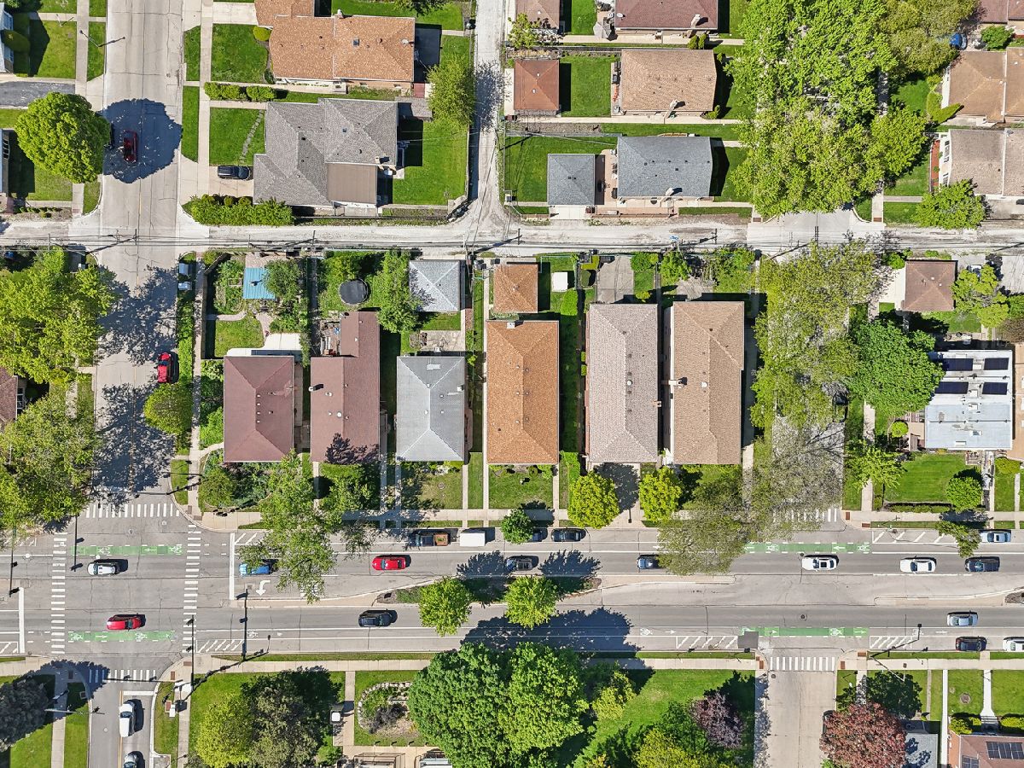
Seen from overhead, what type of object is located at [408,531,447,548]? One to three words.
vehicle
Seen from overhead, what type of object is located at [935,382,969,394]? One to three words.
solar panel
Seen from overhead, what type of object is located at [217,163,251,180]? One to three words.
car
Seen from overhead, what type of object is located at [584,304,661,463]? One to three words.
house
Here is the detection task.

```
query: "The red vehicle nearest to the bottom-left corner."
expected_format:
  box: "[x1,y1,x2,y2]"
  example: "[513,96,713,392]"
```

[109,614,144,630]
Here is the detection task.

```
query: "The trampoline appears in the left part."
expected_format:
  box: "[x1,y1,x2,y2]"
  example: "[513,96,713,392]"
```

[339,278,369,308]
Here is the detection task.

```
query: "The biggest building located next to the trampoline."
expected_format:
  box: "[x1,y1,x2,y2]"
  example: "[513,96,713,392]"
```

[310,310,383,464]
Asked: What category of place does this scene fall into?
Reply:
residential area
